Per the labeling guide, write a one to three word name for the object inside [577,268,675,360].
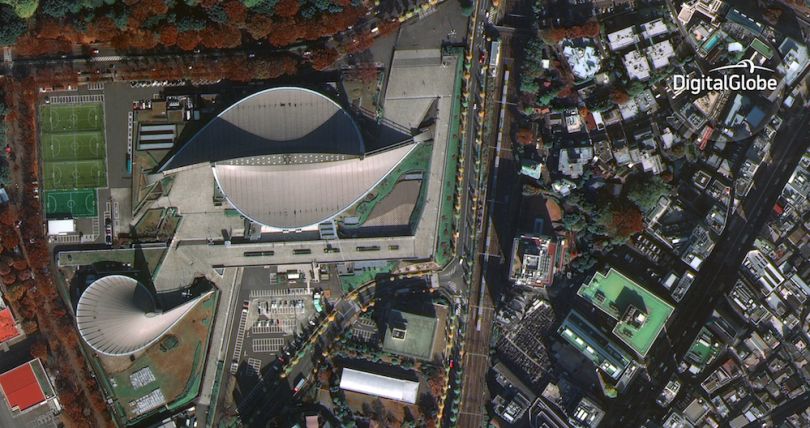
building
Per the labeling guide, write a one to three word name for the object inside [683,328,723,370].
building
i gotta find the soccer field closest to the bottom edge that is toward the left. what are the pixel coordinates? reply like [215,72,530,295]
[45,189,97,218]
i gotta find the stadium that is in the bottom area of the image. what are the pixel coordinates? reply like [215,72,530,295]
[75,274,214,356]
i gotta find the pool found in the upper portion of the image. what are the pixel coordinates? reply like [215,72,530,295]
[698,32,721,57]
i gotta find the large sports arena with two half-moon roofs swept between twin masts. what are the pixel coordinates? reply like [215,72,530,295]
[146,86,436,232]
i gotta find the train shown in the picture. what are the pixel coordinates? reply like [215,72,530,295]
[477,61,509,331]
